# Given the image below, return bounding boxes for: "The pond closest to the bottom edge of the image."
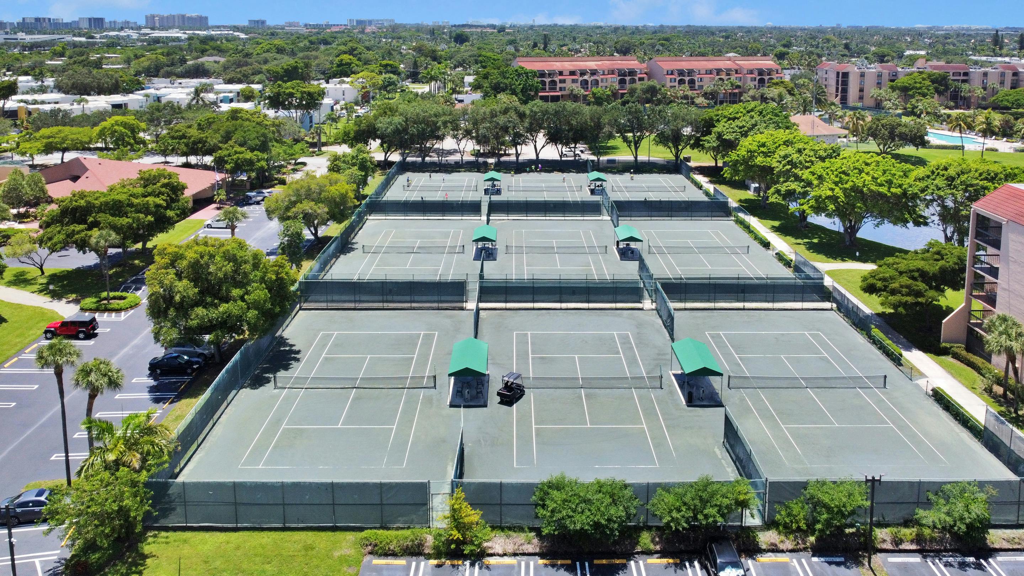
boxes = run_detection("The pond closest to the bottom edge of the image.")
[781,189,1007,258]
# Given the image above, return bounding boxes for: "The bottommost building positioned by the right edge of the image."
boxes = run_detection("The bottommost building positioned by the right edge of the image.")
[919,179,1024,383]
